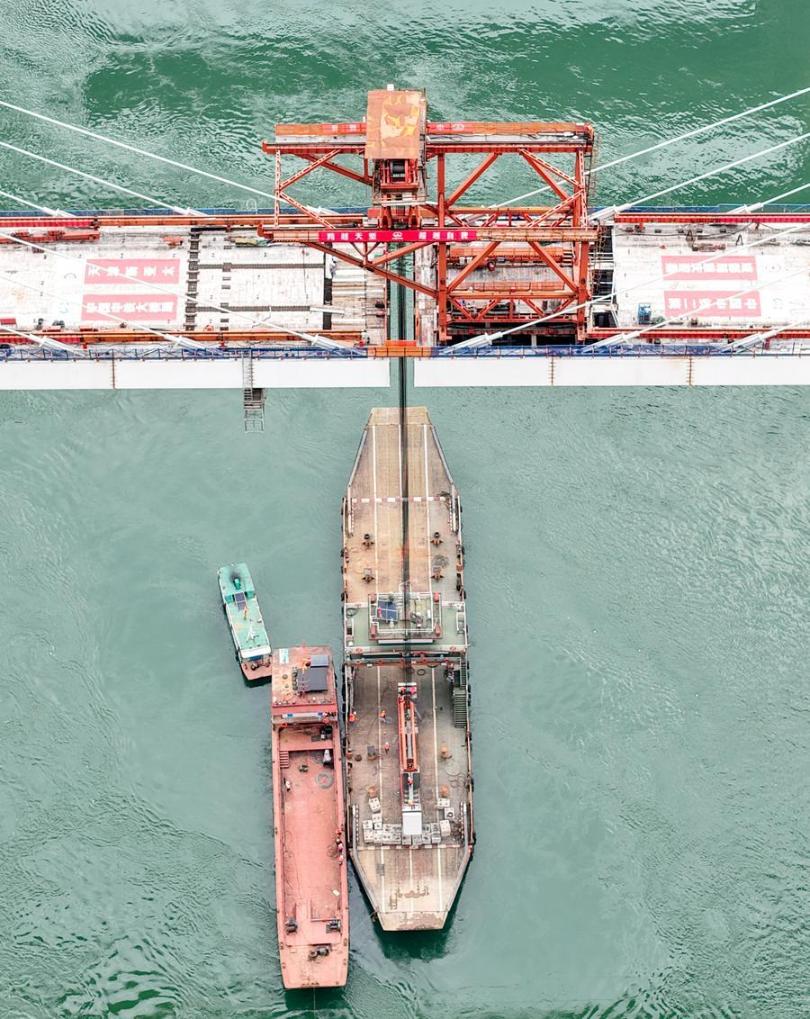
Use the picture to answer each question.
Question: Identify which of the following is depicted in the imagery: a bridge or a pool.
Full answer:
This aerial view contains a bridge.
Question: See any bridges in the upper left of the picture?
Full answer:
Yes, you'll find a bridge in the upper left of the picture.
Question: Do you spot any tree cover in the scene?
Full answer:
No, tree cover can't be seen anywhere here.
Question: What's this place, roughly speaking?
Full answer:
This image shows a port.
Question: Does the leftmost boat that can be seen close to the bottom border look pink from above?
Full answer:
Yes, the leftmost boat that can be seen close to the bottom border appears pink.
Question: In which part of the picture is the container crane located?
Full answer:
Look in the top portion of the view to spot the container crane.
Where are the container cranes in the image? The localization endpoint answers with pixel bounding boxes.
[254,116,614,340]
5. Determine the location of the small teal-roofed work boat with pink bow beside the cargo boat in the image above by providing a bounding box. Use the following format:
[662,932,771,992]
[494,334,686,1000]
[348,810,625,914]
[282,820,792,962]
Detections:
[219,564,271,684]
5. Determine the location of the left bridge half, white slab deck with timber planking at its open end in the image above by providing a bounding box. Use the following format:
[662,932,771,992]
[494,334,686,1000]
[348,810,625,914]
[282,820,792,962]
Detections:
[0,99,390,388]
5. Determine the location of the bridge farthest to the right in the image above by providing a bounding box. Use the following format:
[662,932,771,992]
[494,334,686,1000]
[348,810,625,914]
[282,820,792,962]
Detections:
[415,84,810,388]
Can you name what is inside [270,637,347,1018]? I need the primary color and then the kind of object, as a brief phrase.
pink boat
